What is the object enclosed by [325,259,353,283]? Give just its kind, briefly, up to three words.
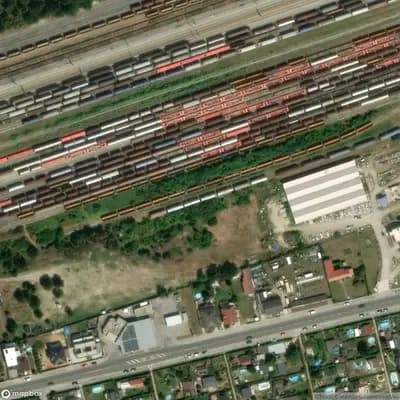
house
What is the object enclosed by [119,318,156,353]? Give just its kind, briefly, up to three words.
building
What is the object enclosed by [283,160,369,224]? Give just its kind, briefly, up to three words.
building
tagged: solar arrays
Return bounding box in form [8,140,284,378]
[123,326,136,341]
[123,341,138,352]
